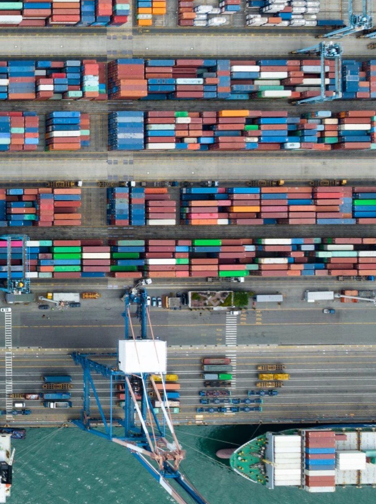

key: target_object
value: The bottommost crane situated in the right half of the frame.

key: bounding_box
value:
[286,44,344,110]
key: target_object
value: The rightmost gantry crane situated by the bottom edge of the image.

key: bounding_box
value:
[73,302,202,504]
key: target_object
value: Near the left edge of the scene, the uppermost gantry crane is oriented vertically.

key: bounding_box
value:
[0,233,28,294]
